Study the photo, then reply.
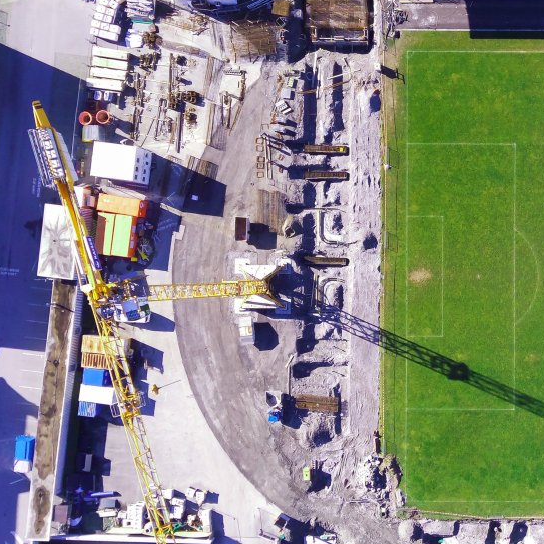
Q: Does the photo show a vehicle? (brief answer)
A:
Yes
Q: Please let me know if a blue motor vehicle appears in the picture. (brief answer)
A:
Yes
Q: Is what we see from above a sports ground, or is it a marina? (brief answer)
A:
sports ground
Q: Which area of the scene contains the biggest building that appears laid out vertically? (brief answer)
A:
bottom left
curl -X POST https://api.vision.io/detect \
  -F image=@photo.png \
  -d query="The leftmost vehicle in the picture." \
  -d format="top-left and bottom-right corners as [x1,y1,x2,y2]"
[15,434,36,473]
